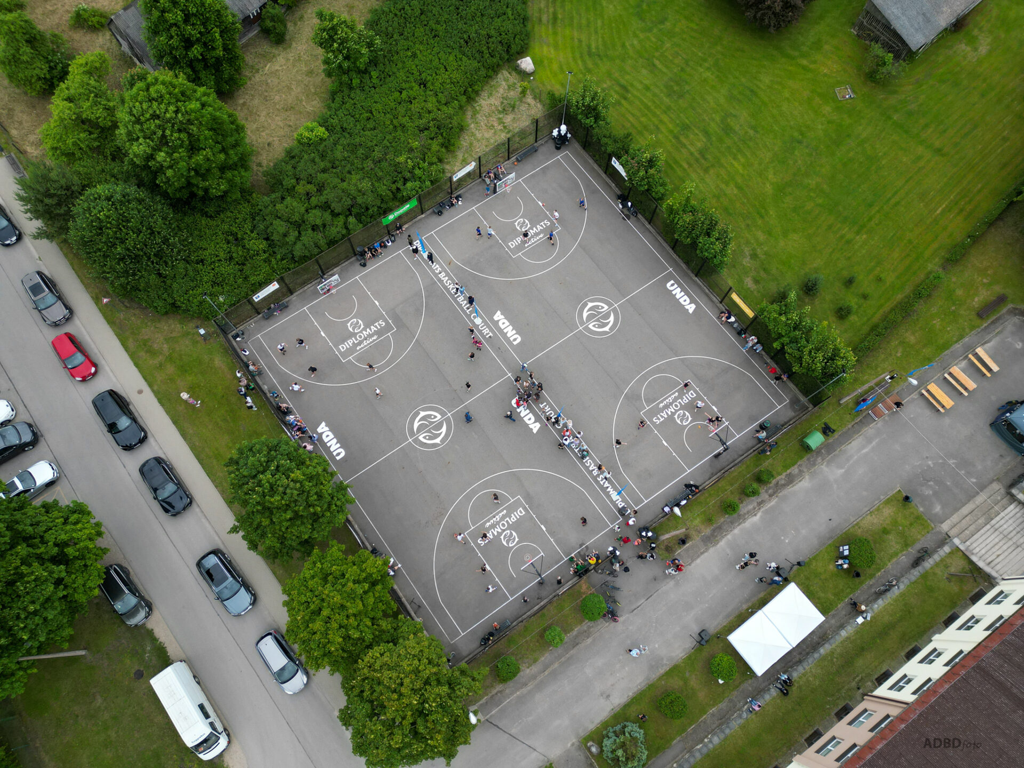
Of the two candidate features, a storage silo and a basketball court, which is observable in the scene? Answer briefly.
basketball court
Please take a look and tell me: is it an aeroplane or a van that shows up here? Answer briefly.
van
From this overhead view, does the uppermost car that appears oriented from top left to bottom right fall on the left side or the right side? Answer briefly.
left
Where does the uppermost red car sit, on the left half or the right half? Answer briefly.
left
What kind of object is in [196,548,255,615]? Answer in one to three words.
car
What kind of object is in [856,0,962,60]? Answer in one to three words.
barn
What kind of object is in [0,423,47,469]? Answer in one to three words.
car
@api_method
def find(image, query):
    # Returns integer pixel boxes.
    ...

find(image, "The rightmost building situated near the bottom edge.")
[785,580,1024,768]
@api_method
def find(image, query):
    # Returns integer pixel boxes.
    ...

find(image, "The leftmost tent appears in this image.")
[719,583,825,676]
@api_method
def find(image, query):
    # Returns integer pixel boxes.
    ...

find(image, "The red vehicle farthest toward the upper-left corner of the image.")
[50,332,98,380]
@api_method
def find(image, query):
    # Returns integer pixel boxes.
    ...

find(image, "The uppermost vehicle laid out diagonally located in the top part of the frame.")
[18,268,71,326]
